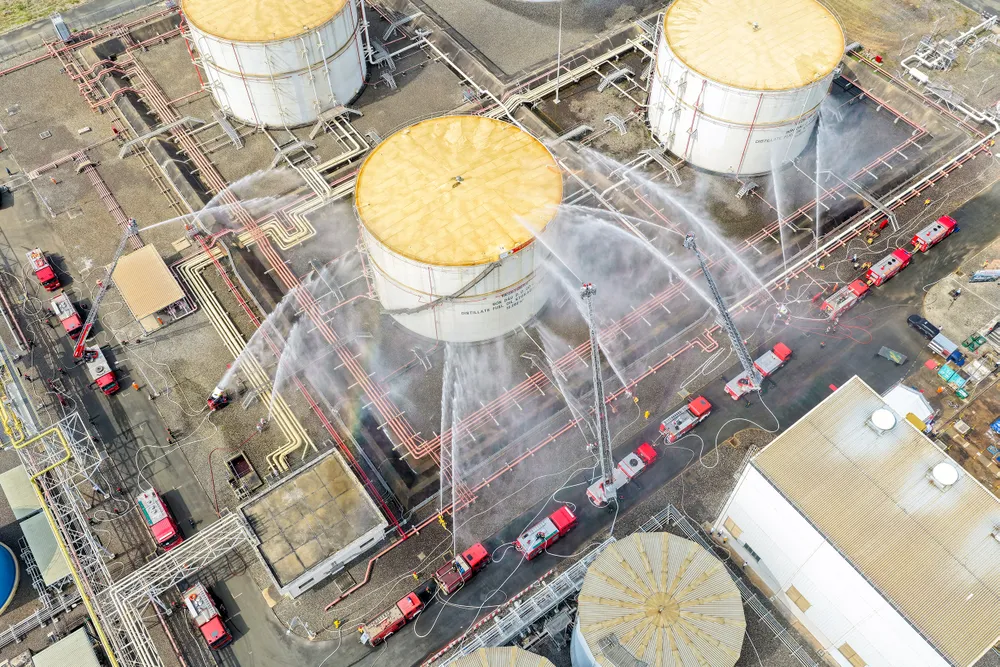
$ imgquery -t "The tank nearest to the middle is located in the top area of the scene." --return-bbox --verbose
[353,108,565,348]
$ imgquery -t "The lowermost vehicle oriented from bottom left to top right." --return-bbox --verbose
[361,588,431,650]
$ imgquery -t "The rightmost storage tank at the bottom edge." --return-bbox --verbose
[571,532,747,667]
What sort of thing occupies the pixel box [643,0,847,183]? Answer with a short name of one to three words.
storage tank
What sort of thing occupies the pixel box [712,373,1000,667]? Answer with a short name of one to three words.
building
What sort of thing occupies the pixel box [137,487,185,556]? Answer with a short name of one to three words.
truck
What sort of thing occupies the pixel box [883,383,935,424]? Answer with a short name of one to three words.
tent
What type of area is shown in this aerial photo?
industrial area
